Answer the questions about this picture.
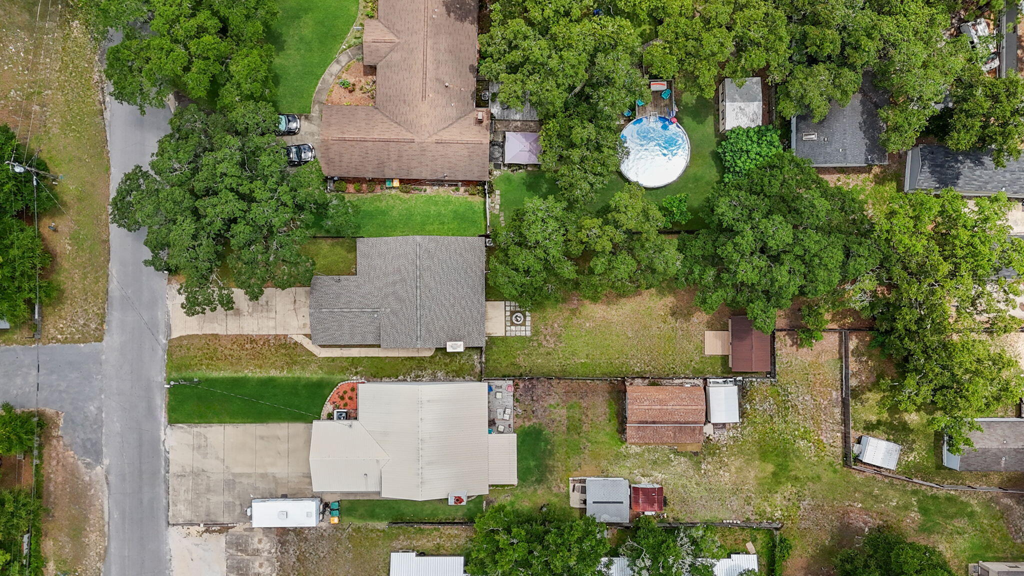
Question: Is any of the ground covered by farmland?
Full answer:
No, the scene doesn't show any farmland.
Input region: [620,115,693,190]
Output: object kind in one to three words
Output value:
swimming pool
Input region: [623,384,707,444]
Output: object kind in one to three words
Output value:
building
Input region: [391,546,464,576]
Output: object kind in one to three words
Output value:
house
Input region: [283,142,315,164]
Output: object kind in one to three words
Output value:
car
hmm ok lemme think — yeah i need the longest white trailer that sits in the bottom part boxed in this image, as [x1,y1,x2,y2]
[243,490,326,527]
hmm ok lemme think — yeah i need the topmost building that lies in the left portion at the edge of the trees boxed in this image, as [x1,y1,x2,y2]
[320,0,489,182]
